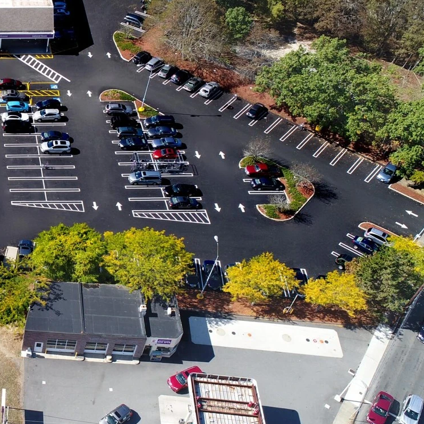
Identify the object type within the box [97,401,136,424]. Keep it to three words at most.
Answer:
car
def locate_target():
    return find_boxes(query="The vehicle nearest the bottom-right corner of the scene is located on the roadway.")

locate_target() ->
[396,391,424,424]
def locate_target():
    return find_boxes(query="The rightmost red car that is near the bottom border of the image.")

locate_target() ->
[367,389,393,424]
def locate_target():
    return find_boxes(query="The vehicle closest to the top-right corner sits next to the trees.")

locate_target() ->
[374,162,397,184]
